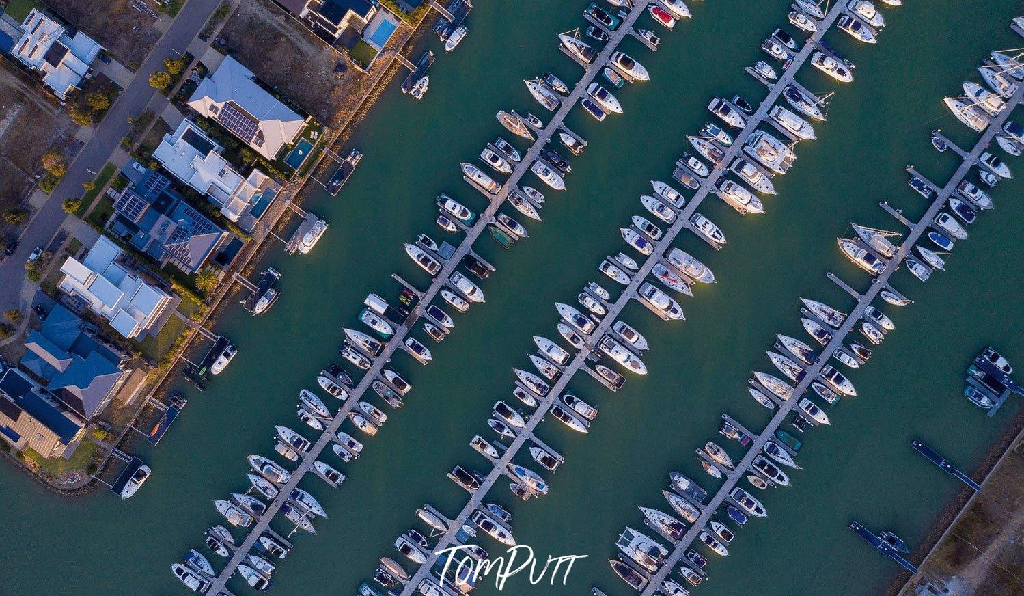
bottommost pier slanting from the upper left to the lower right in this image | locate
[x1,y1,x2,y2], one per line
[850,521,923,578]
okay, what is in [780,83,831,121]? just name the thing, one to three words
boat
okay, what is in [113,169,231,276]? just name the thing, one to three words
house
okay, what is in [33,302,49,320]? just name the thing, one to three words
car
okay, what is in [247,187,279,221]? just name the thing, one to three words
swimming pool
